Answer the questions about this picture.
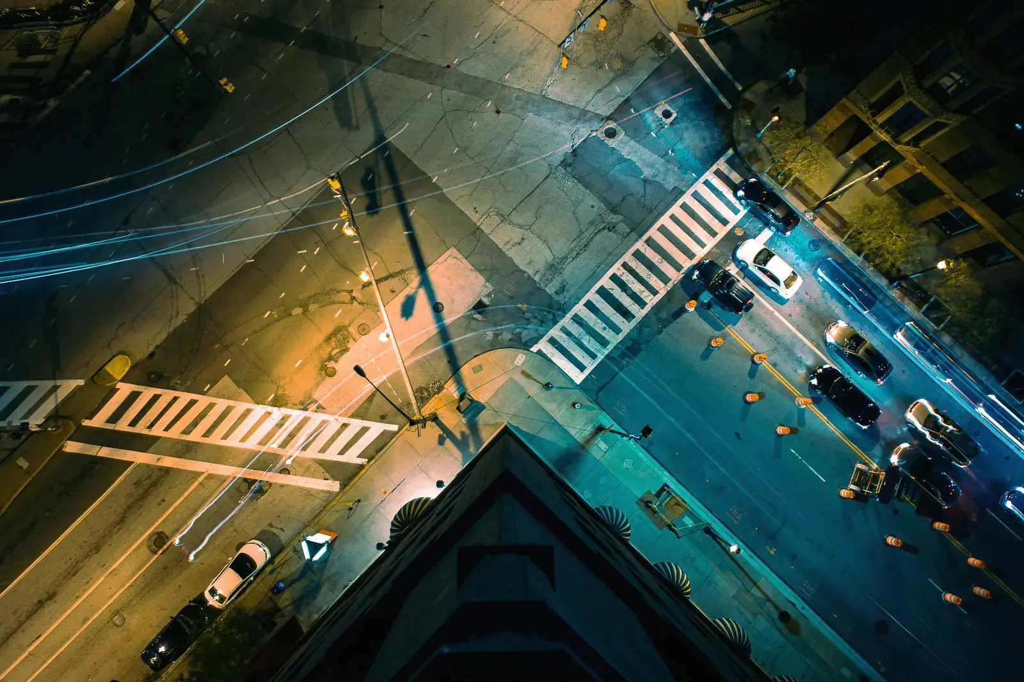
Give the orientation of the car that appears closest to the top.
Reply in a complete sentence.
I'd say the car that appears closest to the top is aligned on a diagonal in the picture.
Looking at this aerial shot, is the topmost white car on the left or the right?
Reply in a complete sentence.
It is on the right.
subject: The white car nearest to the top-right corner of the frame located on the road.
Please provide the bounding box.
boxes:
[731,240,802,302]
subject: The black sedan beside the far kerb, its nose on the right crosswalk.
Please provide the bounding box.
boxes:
[731,178,804,238]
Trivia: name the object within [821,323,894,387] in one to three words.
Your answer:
car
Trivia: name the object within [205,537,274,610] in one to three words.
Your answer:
car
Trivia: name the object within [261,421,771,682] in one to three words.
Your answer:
building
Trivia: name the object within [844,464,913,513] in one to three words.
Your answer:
trailer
